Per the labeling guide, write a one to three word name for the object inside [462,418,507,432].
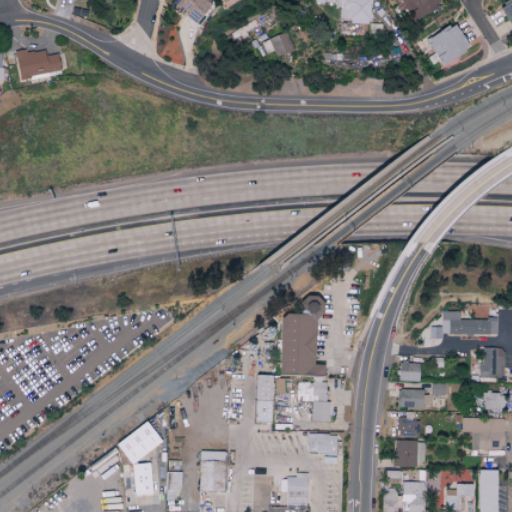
house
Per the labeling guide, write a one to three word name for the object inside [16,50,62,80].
house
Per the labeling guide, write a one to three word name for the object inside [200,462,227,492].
building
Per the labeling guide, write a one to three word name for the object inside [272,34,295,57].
barn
